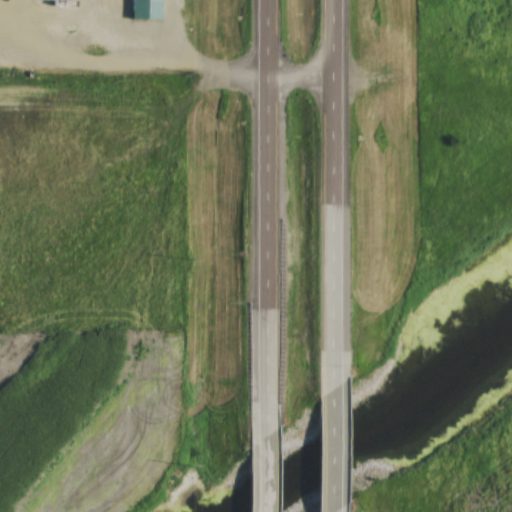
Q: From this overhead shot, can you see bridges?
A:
Yes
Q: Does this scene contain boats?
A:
No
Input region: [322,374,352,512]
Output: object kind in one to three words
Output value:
bridge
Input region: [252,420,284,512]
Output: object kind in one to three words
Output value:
bridge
